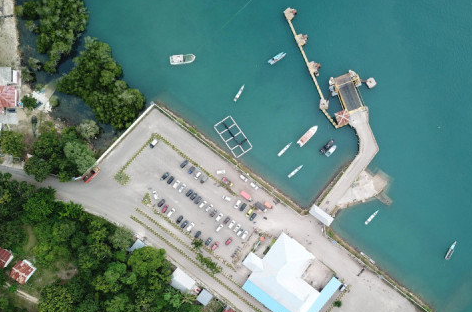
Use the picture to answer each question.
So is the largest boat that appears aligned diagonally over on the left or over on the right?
right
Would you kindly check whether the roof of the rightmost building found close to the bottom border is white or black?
white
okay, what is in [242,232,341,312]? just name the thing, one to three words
building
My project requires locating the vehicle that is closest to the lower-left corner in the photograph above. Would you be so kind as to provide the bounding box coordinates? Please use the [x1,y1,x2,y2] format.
[82,167,98,184]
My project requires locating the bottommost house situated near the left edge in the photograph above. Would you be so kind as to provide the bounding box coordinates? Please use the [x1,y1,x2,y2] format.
[11,260,37,285]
